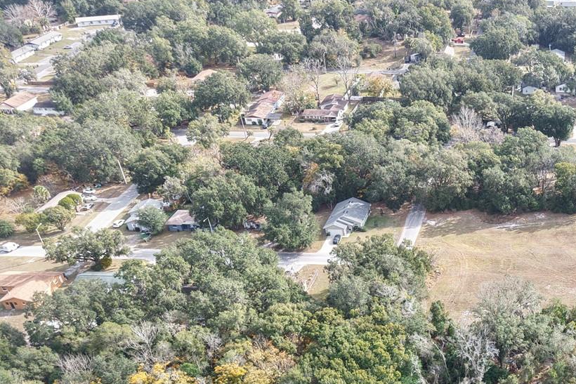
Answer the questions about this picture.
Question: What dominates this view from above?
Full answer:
What you mostly see from above here is trees.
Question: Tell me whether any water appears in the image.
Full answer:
No, the picture contains no water.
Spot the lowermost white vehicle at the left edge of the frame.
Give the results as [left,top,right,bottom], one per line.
[0,241,22,253]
